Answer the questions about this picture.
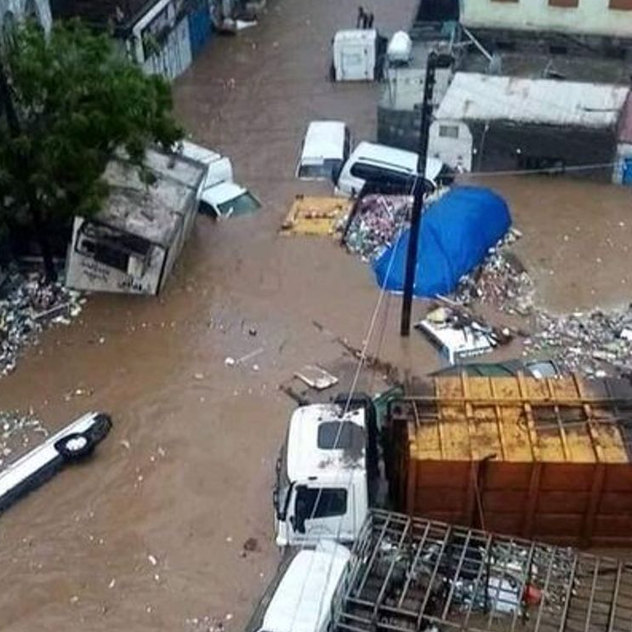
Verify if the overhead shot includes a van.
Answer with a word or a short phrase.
Yes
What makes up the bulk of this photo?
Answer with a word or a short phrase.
water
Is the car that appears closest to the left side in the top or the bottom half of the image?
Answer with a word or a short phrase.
bottom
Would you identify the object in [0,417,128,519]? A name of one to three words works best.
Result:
car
